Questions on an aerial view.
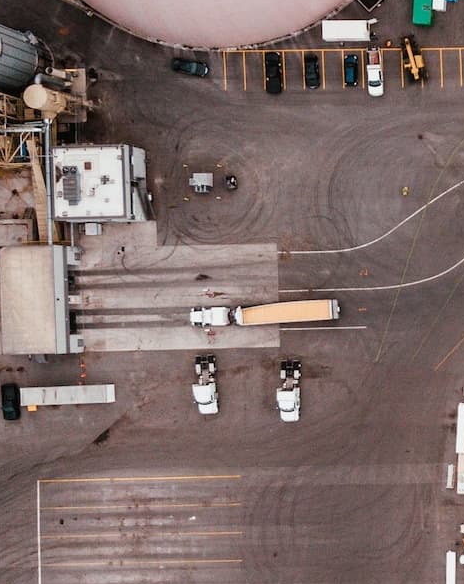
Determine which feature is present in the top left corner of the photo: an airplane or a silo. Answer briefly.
silo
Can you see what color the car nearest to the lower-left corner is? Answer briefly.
black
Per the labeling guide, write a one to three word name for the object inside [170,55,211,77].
car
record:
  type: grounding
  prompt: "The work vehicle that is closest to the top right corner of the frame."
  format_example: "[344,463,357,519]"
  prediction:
[401,35,427,78]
